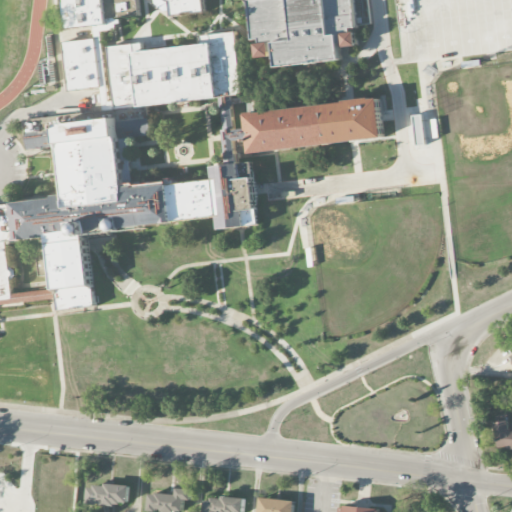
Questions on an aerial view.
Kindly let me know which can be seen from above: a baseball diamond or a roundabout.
baseball diamond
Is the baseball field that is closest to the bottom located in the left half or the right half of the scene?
right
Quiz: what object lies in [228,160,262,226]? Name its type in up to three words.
building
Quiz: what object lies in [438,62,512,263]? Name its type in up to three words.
baseball field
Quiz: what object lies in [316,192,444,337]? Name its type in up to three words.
baseball field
